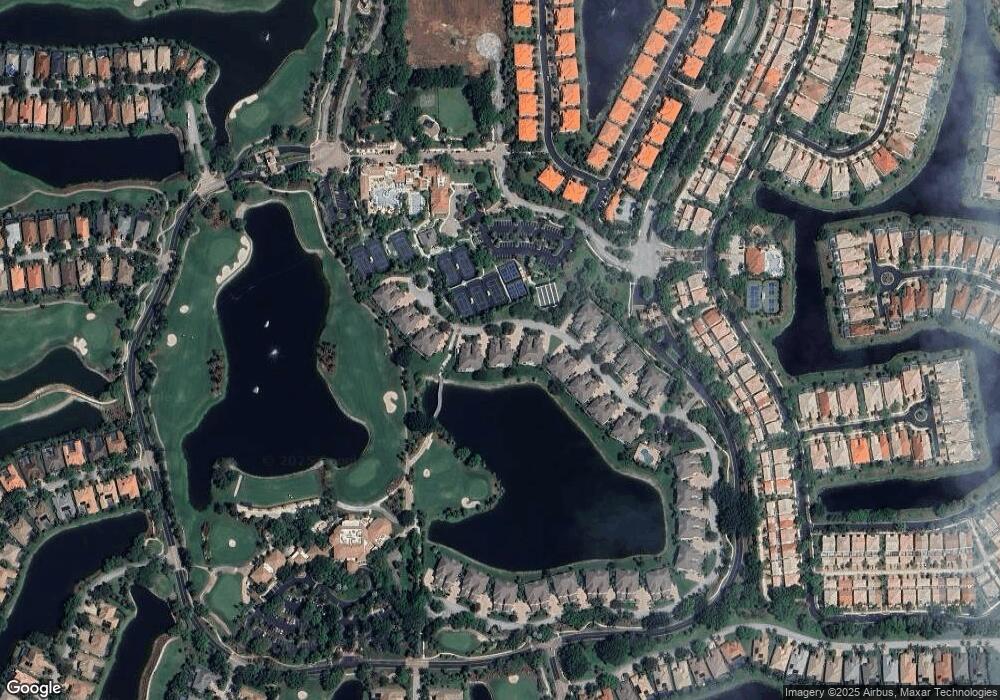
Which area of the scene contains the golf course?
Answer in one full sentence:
The golf course appears toward the left of the photo.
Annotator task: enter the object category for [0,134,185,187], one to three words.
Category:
pond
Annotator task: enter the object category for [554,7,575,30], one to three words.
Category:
house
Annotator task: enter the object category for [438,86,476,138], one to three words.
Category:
sports field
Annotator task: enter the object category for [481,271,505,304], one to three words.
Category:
tennis court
